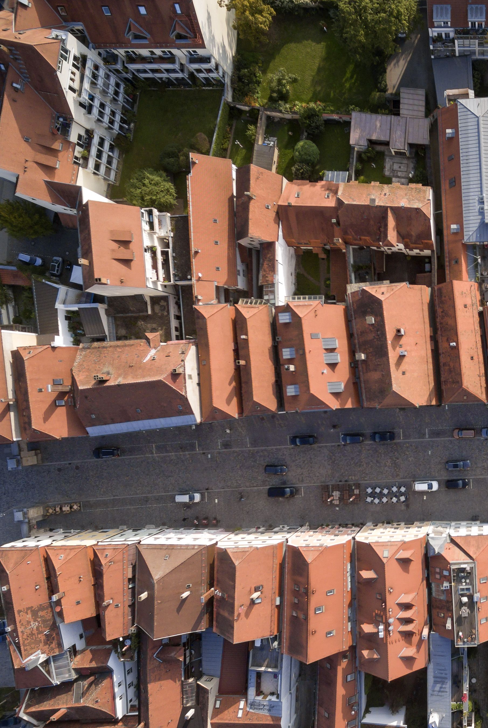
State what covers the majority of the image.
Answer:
buildings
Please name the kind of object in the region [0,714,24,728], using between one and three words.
vehicle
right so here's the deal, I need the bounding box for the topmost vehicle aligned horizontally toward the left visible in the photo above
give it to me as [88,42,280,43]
[17,252,45,268]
